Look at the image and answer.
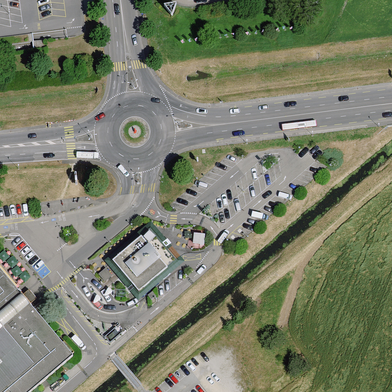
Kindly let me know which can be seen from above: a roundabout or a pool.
roundabout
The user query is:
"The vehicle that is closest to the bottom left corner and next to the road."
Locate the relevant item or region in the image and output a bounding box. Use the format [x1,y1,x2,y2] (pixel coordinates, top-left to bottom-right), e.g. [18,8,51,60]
[50,376,68,390]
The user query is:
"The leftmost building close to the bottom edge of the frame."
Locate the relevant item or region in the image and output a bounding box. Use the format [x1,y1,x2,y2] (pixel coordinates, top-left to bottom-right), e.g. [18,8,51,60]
[0,295,72,392]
